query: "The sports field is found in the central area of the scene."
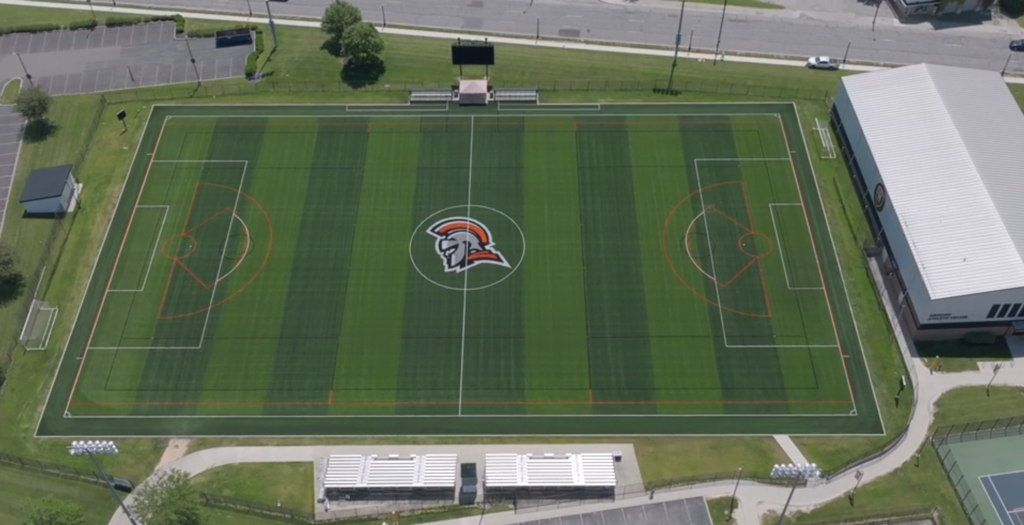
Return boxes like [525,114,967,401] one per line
[37,102,884,435]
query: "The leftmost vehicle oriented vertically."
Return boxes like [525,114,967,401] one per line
[459,462,478,503]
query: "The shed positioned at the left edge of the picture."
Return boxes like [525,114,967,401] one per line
[19,168,77,212]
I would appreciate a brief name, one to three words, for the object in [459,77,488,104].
tent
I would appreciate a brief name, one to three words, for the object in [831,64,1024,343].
building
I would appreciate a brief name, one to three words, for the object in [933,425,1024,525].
tennis court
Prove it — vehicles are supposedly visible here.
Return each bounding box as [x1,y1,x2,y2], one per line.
[1013,38,1024,49]
[807,54,840,69]
[459,462,478,503]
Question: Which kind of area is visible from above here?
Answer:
sports ground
